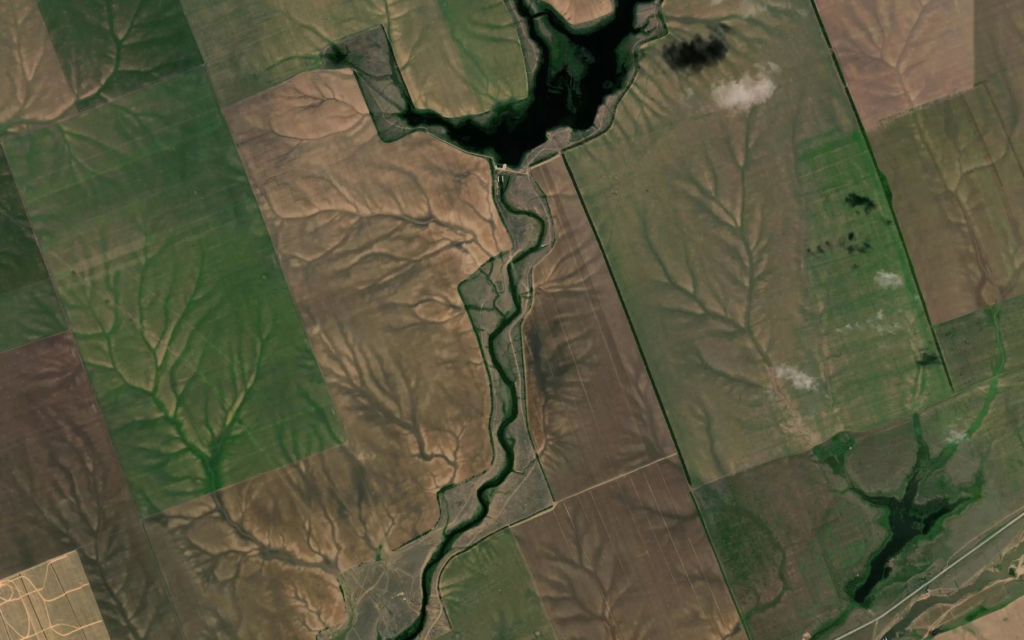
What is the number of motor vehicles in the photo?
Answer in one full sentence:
No motor vehicles are visible.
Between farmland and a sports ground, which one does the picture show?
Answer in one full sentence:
This image shows farmland.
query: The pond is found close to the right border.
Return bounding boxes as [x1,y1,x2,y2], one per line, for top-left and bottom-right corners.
[850,470,974,605]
